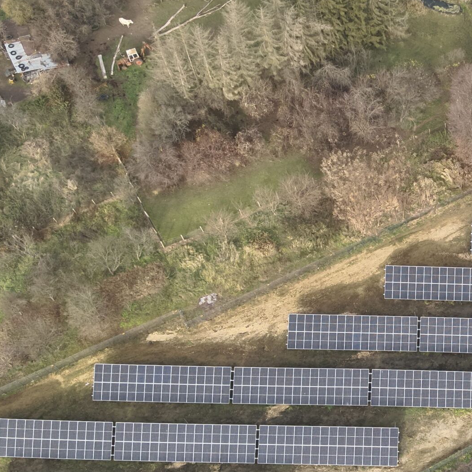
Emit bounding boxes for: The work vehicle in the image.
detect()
[110,47,150,71]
